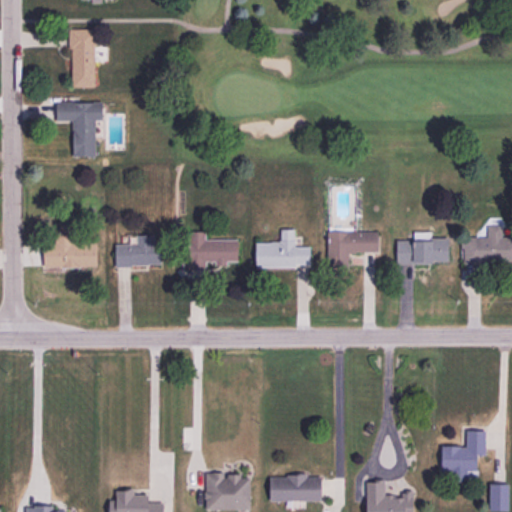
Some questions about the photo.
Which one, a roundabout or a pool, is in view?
pool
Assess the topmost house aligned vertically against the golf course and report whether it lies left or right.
left of it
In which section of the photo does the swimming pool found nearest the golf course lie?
top left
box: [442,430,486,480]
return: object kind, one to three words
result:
house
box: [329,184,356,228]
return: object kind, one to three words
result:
swimming pool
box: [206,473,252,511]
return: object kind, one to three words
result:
house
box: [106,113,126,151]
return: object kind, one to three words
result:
swimming pool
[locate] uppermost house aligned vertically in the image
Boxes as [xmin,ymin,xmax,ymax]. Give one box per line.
[69,29,96,88]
